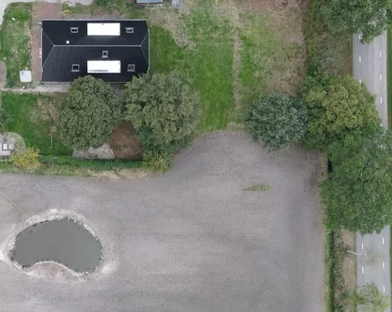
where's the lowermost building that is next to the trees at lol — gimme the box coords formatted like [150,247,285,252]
[42,18,150,84]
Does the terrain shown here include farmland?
Yes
